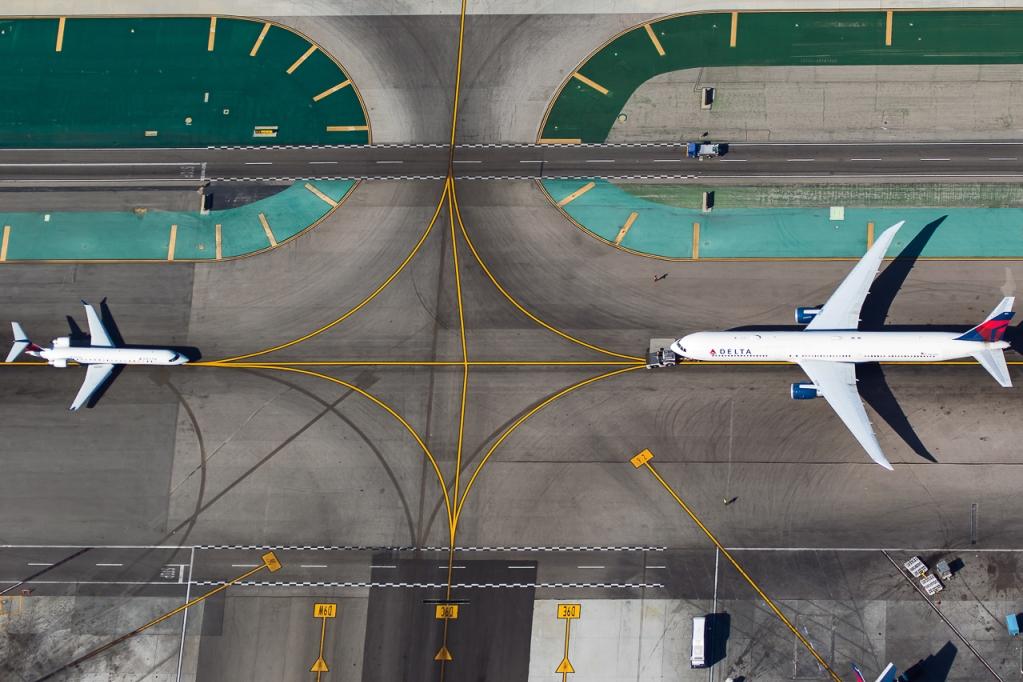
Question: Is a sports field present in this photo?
No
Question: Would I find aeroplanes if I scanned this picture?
Yes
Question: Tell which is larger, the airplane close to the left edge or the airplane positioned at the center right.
the airplane positioned at the center right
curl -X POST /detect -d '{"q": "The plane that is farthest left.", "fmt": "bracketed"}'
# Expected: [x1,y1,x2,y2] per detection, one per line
[7,301,189,410]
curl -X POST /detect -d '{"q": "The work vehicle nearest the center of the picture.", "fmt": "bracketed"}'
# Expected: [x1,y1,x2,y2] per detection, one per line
[645,351,687,369]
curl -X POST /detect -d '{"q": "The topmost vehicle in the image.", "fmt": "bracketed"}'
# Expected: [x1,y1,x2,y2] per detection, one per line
[686,142,719,160]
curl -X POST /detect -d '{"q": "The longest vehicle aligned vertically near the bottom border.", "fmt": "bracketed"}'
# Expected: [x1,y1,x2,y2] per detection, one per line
[689,618,706,669]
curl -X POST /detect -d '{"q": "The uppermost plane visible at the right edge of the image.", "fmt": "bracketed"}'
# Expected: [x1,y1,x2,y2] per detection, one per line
[669,220,1014,469]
